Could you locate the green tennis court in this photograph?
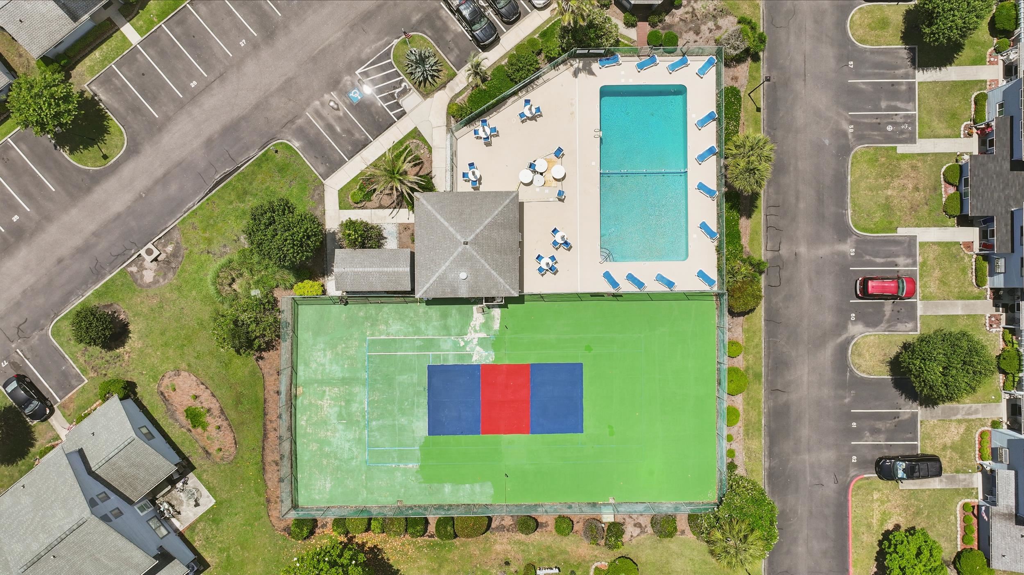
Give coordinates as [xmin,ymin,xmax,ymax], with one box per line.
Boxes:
[292,293,718,508]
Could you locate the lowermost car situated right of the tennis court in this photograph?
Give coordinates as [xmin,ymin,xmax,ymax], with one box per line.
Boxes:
[875,453,940,481]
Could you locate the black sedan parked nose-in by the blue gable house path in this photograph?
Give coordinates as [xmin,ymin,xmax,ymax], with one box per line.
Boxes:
[2,371,53,423]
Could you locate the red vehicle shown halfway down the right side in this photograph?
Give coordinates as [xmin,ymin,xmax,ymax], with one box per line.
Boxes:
[855,274,916,301]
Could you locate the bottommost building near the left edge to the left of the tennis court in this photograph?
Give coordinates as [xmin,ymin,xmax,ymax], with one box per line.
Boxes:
[0,396,195,575]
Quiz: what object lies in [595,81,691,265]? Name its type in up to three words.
swimming pool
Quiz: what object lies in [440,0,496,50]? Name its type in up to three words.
truck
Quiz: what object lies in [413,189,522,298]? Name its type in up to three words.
building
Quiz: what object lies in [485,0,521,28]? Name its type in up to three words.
car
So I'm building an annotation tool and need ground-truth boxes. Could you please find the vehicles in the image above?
[485,0,521,28]
[440,0,496,50]
[2,371,53,423]
[875,453,940,481]
[855,274,916,301]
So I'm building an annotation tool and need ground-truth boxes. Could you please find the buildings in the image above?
[958,72,1024,289]
[0,50,22,100]
[0,0,108,60]
[413,189,522,298]
[333,249,412,291]
[0,396,195,575]
[978,430,1024,573]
